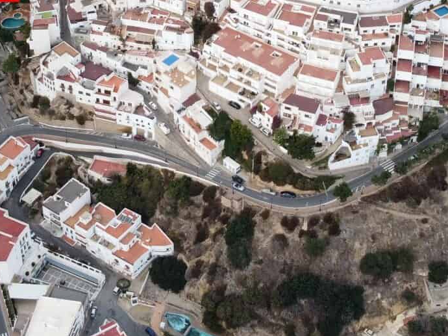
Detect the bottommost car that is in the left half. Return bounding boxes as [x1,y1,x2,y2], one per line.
[144,323,157,336]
